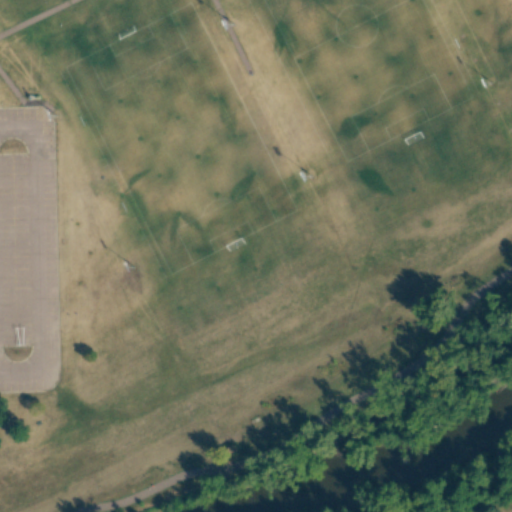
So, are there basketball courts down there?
No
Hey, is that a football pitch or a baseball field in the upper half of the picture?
football pitch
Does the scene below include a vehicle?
No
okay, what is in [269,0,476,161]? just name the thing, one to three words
soccer field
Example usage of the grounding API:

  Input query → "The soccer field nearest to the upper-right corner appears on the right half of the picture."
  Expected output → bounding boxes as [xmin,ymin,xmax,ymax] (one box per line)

[457,0,512,109]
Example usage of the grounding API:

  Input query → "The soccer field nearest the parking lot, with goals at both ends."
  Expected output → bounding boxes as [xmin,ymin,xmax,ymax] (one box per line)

[68,4,296,274]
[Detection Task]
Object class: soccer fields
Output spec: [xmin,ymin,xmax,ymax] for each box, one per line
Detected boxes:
[68,4,296,274]
[269,0,476,161]
[457,0,512,109]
